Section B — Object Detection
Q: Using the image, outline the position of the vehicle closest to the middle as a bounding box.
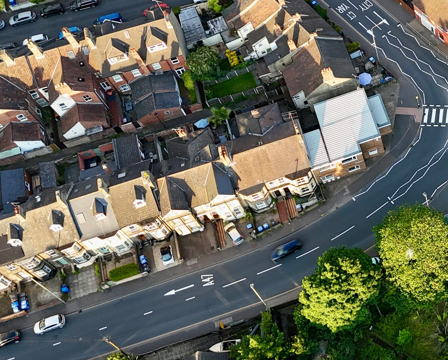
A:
[223,221,244,248]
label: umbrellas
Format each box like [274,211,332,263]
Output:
[359,72,374,87]
[193,117,209,131]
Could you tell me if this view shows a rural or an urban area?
urban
